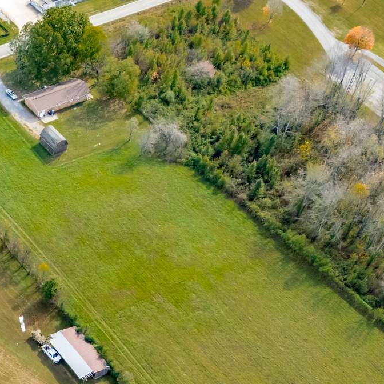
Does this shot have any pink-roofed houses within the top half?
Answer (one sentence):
No, I can find no pink-roofed house within the top half.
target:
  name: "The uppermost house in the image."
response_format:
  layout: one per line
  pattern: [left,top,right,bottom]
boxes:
[23,82,97,118]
